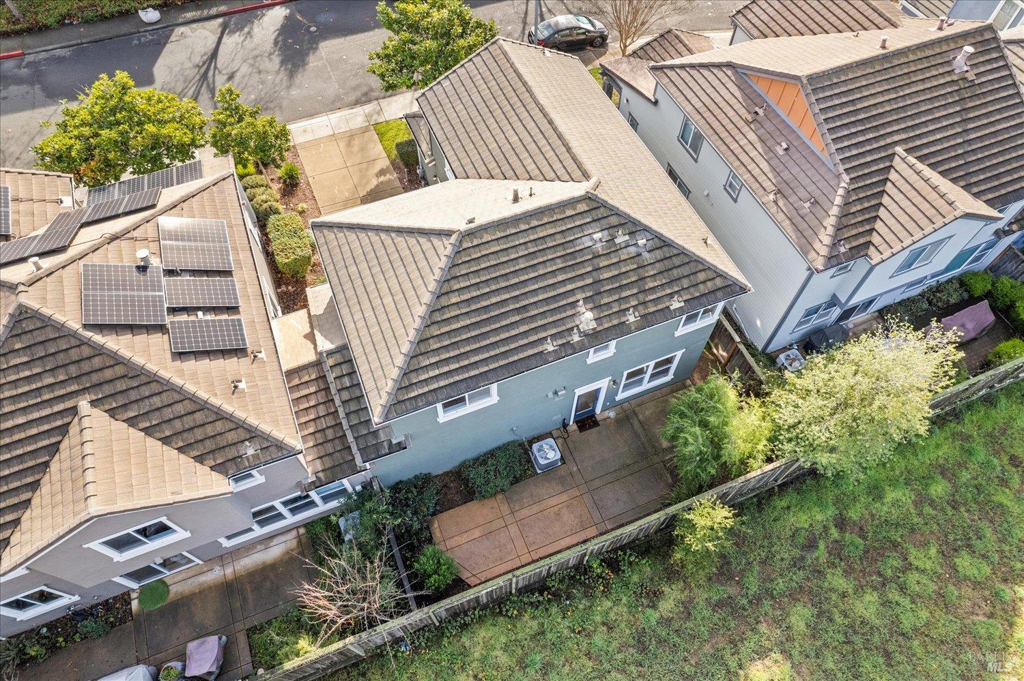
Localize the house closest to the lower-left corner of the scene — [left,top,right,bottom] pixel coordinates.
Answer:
[0,147,381,643]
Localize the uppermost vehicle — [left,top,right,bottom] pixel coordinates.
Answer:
[529,14,609,51]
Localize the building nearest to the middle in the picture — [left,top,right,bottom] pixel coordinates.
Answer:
[307,33,757,489]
